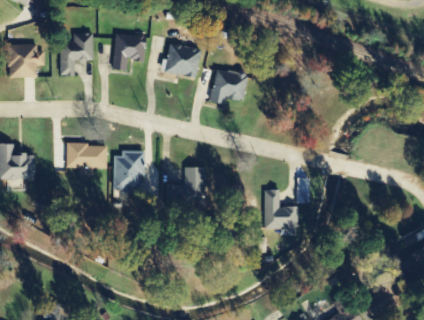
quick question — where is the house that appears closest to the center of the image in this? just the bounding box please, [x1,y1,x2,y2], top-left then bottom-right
[164,167,204,200]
